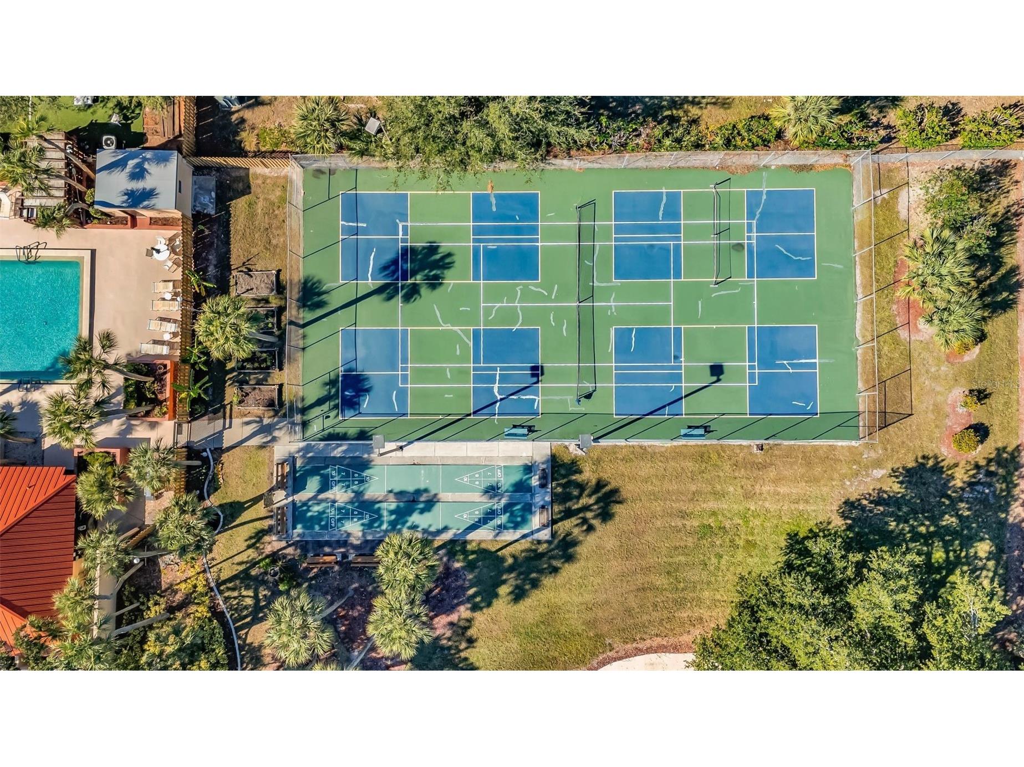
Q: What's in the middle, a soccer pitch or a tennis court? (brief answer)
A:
tennis court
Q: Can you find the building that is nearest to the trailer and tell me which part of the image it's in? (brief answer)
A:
top left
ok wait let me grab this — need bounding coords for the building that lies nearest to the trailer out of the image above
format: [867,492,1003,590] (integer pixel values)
[95,148,192,218]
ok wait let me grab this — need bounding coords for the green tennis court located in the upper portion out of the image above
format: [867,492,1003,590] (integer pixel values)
[302,167,860,441]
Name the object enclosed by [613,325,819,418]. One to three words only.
sports court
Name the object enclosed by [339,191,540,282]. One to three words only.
sports court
